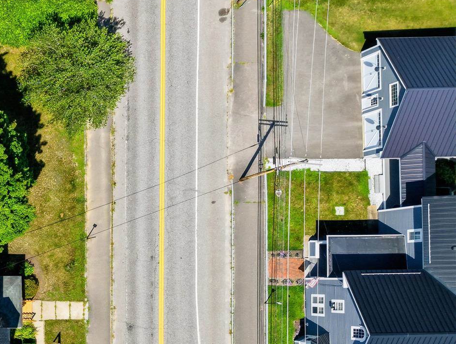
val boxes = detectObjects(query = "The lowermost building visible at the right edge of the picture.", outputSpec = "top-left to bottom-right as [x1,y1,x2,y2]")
[294,194,456,344]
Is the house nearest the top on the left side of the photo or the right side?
right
